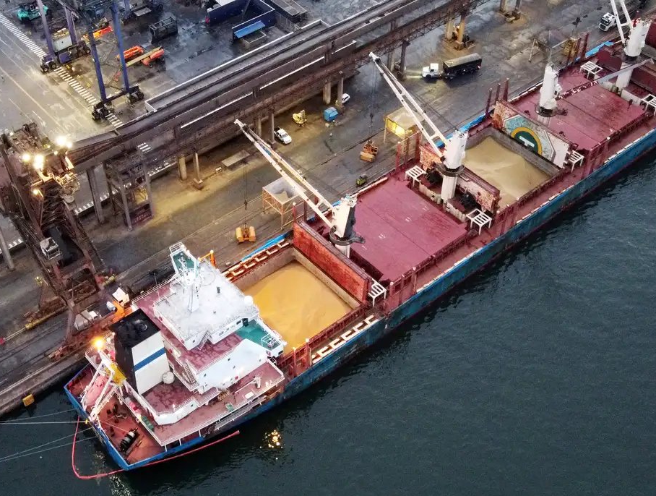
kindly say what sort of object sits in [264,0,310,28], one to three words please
building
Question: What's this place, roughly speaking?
port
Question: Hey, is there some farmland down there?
No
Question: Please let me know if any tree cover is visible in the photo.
No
